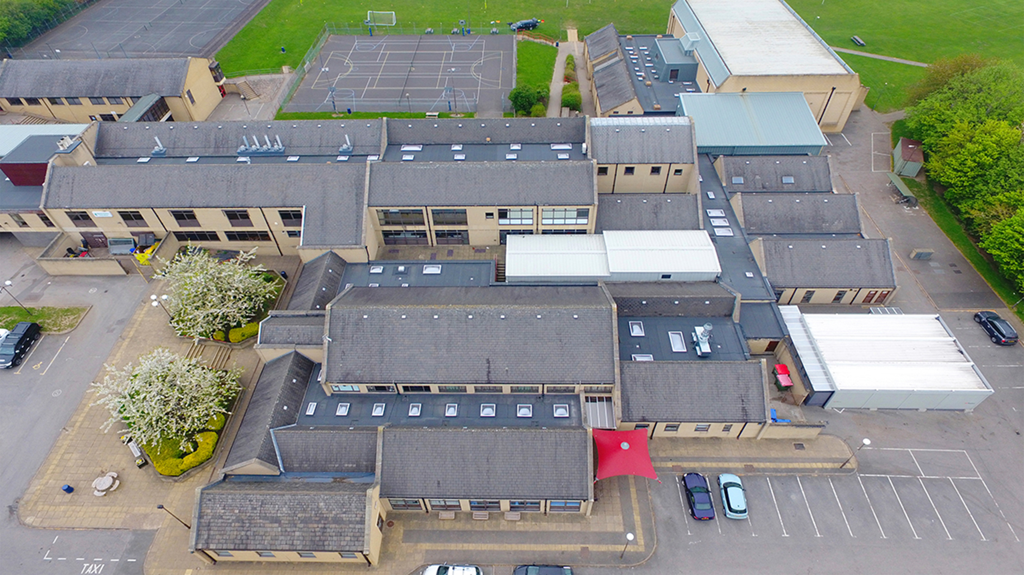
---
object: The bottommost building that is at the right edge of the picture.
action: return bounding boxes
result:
[801,313,997,411]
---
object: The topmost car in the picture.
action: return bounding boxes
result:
[511,14,542,30]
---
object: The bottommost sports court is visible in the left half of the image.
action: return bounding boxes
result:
[281,35,513,117]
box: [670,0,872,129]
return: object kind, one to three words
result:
building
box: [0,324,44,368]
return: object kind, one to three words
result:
car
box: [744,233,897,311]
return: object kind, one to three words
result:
building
